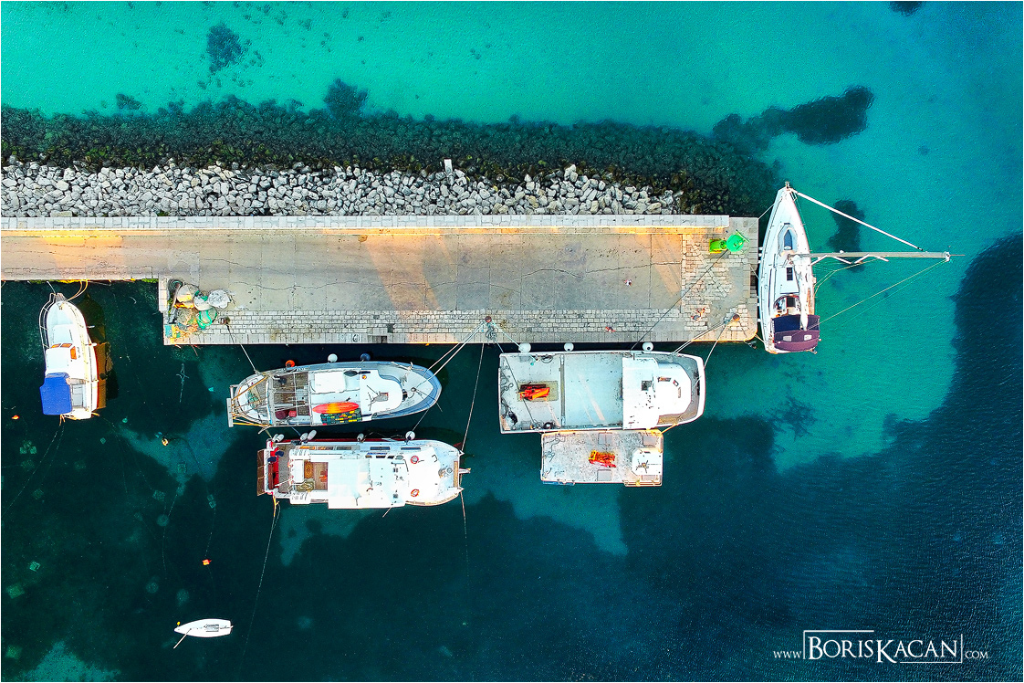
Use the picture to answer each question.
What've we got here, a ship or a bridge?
ship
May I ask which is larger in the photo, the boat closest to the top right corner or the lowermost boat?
the boat closest to the top right corner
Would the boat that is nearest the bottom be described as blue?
No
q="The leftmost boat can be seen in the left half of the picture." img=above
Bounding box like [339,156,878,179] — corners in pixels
[40,292,112,425]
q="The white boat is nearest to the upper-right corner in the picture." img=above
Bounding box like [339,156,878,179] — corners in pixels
[758,181,965,354]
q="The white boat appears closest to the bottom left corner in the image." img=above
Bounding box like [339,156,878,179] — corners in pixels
[173,617,234,649]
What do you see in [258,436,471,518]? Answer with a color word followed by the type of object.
white boat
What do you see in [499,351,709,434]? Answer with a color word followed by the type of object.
white vessel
